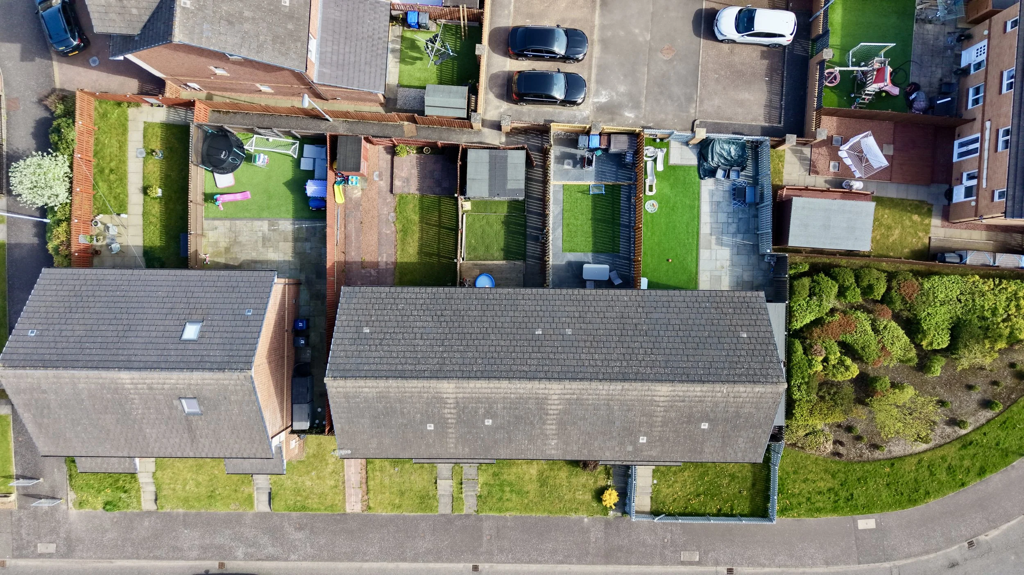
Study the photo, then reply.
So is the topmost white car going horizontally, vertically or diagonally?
horizontally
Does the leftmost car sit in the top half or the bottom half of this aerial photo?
top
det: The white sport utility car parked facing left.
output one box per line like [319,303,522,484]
[715,6,792,47]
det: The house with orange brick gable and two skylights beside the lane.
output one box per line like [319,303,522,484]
[0,268,302,477]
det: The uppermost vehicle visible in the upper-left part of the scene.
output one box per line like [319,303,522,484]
[37,0,90,60]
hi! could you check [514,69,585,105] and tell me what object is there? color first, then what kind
black car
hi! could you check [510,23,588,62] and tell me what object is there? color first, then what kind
black car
